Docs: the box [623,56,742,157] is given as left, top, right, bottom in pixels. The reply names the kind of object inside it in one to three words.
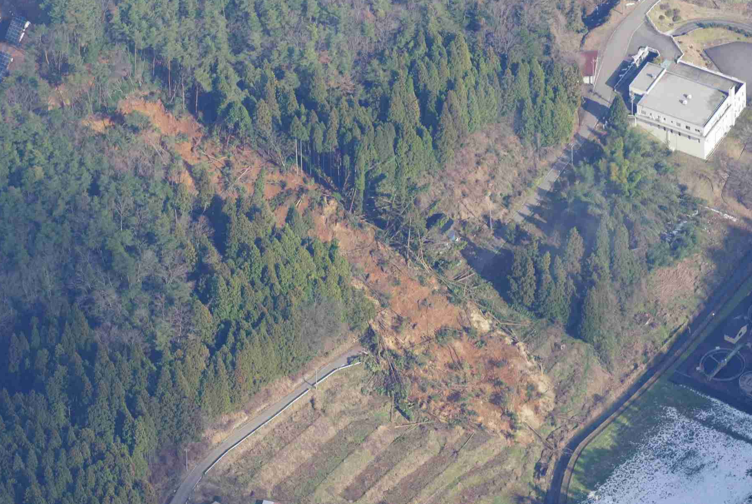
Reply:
building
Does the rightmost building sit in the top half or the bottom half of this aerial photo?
bottom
